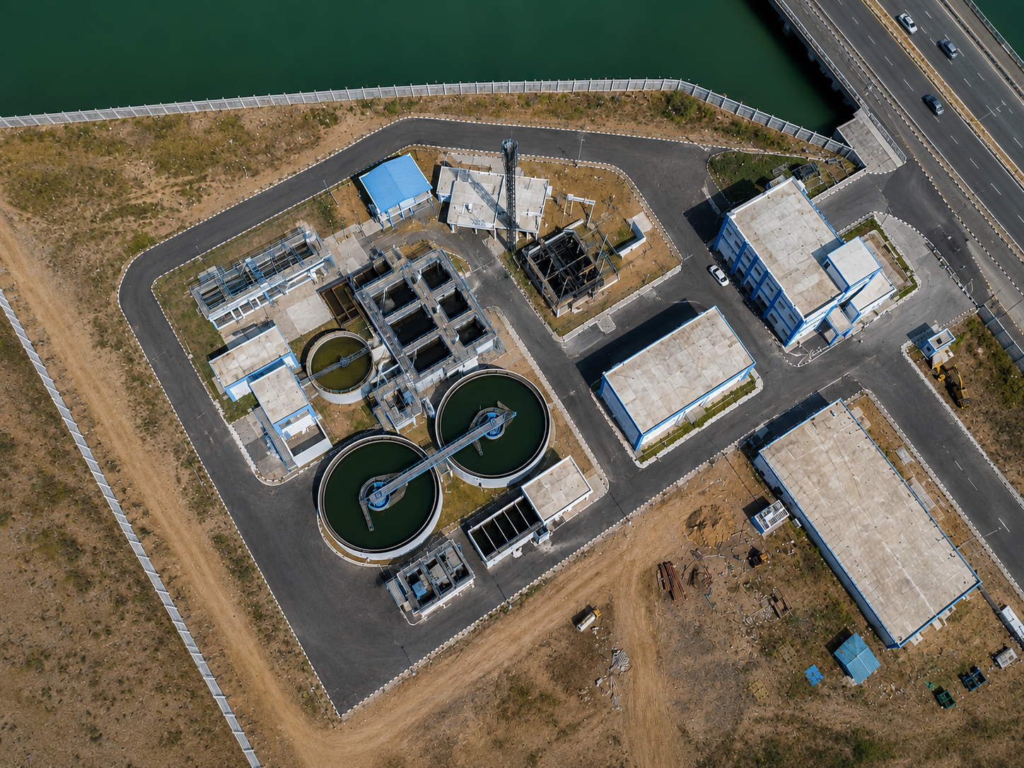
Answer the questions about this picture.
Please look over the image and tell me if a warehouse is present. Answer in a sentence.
Yes, you can see a warehouse in this photo.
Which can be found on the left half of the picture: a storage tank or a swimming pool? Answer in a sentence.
It is a storage tank that can be seen on the left half of the picture.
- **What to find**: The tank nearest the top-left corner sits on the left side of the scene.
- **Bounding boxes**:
[305,332,377,401]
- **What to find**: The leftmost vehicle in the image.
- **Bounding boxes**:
[573,604,604,633]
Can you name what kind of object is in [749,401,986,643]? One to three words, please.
warehouse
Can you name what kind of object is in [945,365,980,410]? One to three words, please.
work vehicle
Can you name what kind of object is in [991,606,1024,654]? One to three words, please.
trailer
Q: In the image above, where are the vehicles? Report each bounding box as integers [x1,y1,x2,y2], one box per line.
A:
[924,91,946,113]
[707,261,730,286]
[940,35,960,57]
[945,365,980,410]
[747,549,772,569]
[573,604,604,633]
[899,11,919,32]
